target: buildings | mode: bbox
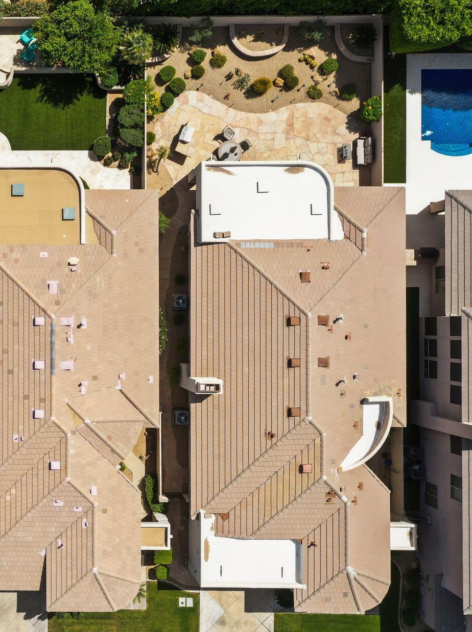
[411,189,472,632]
[180,153,419,613]
[0,155,174,614]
